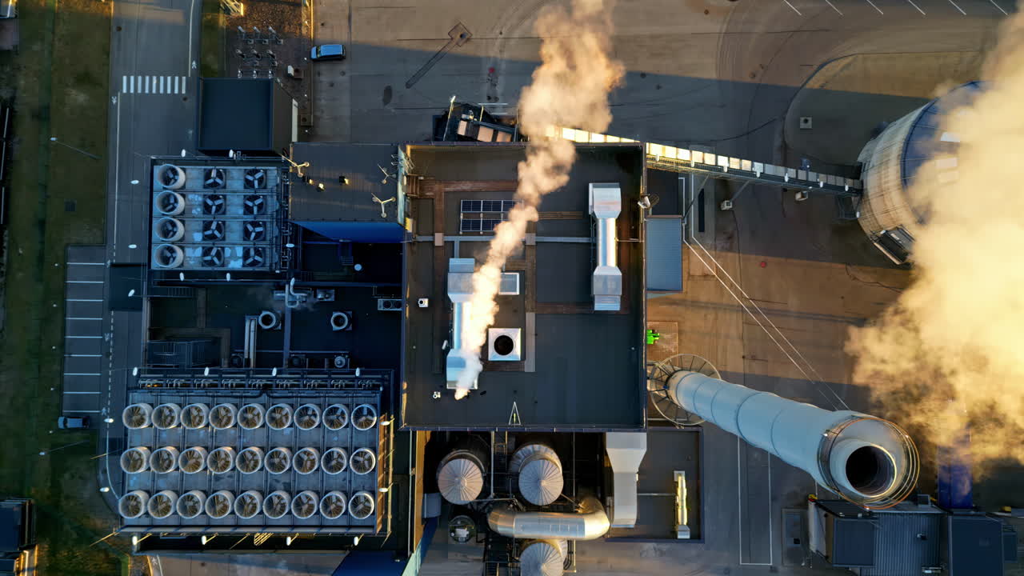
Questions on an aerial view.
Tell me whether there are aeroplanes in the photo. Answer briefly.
No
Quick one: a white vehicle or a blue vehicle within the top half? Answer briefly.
blue vehicle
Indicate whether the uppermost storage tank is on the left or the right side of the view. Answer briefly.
right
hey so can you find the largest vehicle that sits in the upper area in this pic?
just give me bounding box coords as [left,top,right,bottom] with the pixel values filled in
[313,44,347,62]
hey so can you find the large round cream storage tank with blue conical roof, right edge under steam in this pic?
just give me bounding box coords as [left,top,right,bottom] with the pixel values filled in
[858,78,1024,255]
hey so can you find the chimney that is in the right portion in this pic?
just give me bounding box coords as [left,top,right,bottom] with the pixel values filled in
[668,369,911,511]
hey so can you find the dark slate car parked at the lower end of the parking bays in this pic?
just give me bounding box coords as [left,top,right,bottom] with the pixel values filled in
[60,414,92,430]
